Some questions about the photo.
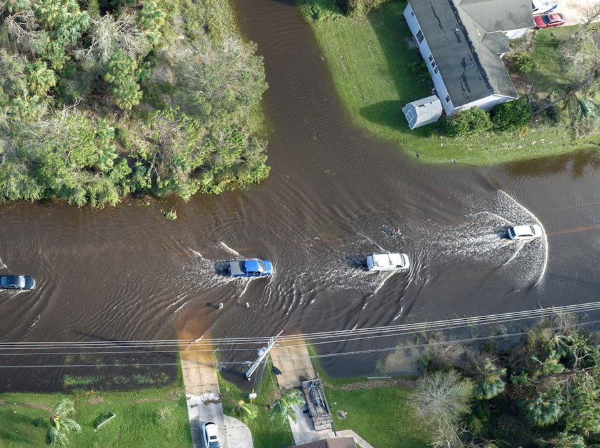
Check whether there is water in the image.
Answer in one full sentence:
Yes, there is water in the image.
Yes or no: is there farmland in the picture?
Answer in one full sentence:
No, farmland can't be seen anywhere here.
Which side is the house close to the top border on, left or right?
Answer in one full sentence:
The house close to the top border sits on the right side.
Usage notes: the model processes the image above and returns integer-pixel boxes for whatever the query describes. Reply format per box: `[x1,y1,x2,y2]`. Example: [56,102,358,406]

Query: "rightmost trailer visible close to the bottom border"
[299,371,332,430]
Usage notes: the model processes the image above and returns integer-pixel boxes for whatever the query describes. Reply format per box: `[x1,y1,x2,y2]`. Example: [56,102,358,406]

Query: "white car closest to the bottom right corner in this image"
[506,222,543,240]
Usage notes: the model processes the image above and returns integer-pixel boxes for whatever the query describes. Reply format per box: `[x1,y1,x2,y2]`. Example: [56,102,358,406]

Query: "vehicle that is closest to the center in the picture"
[227,257,273,275]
